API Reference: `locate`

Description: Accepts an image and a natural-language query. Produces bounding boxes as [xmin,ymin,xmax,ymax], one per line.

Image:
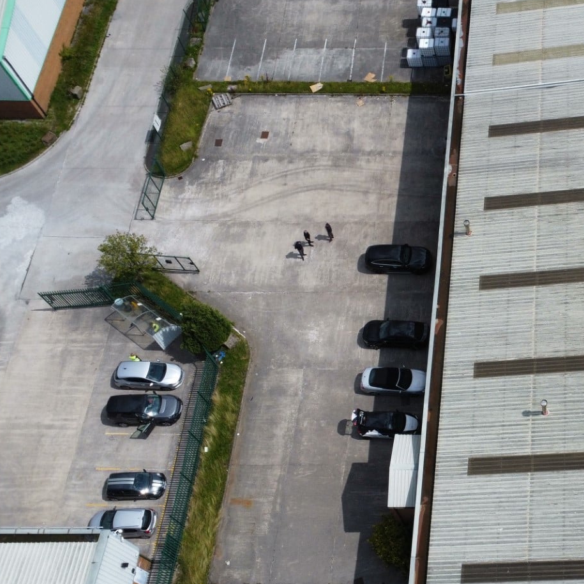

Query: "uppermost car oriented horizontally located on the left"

[112,358,185,394]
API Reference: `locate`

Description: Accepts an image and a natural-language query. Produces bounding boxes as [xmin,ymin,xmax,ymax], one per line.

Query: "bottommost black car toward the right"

[349,406,424,442]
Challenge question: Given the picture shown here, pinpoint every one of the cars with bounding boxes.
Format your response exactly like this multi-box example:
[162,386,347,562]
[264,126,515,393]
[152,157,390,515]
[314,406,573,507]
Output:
[103,468,171,504]
[364,242,434,275]
[112,358,185,394]
[357,363,427,399]
[87,504,165,541]
[349,406,424,442]
[360,316,431,352]
[104,390,185,439]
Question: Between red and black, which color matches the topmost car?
black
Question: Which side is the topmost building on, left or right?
left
